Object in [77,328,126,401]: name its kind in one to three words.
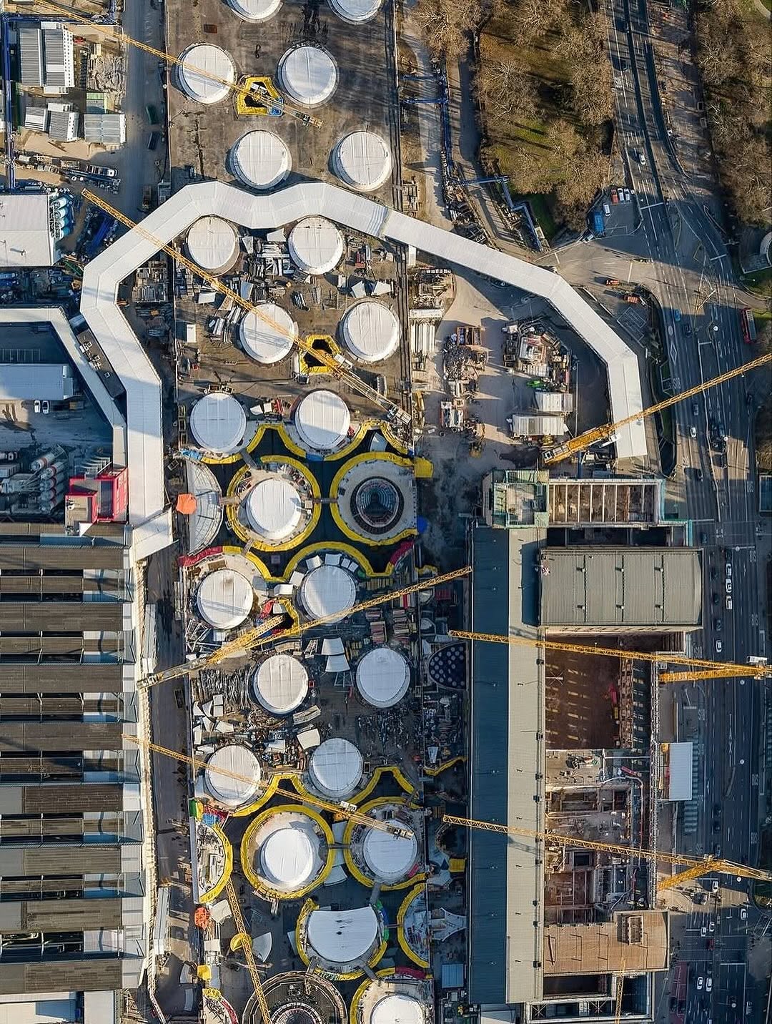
building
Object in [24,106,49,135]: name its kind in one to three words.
building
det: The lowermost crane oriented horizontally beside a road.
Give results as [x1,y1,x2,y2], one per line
[443,815,772,881]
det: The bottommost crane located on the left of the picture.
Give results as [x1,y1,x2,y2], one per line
[224,883,292,1024]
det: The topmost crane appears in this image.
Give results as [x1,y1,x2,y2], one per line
[45,0,321,127]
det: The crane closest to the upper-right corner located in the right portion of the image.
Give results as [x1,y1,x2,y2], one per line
[547,352,772,475]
